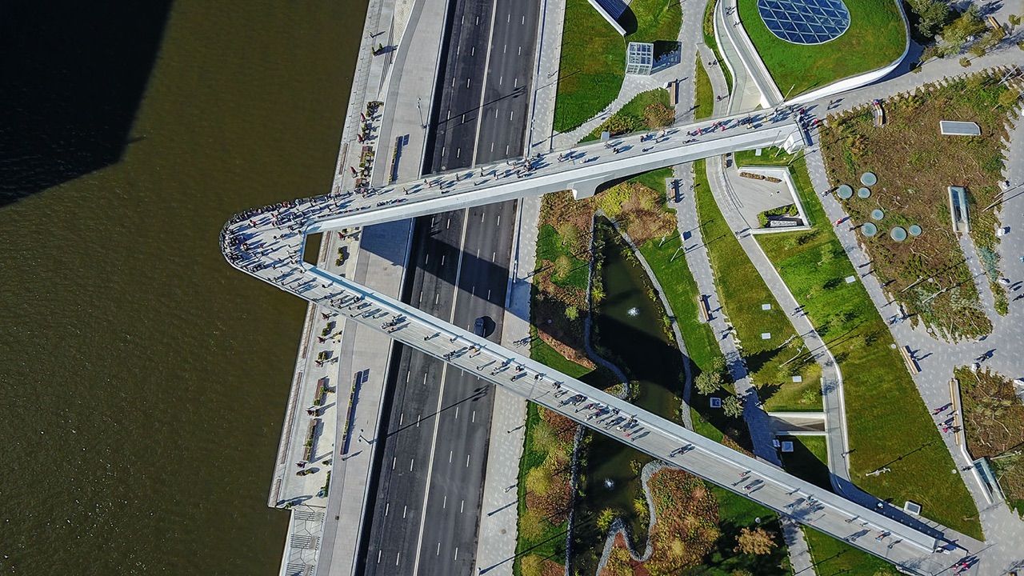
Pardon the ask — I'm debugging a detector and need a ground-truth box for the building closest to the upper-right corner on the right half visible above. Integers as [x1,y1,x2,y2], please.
[737,0,910,103]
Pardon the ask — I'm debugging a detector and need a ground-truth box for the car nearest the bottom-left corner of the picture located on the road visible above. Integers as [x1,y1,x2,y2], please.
[476,316,488,339]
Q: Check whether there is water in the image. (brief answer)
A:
Yes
